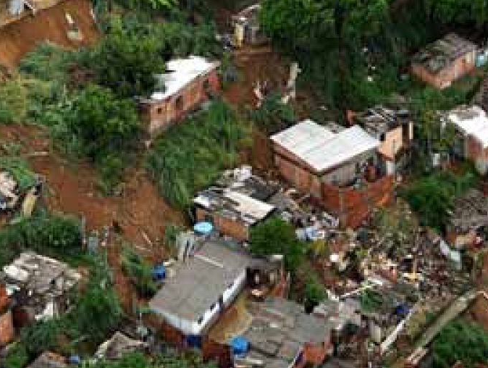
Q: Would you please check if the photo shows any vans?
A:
No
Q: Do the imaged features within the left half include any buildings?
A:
Yes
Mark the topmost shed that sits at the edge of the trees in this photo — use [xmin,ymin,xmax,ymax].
[224,7,268,49]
